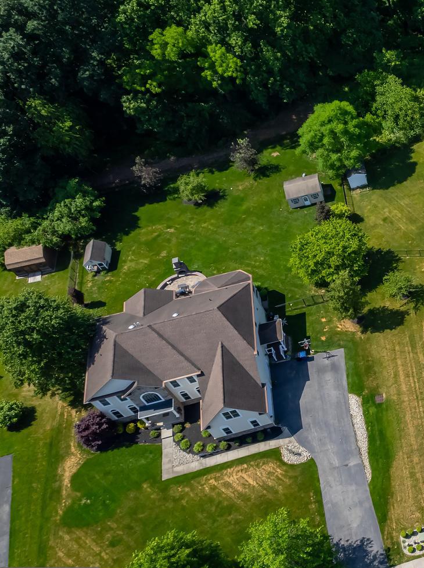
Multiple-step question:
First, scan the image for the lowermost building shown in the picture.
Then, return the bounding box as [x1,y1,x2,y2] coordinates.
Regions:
[84,269,289,439]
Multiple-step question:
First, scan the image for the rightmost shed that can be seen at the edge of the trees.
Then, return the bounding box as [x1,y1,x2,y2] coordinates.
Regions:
[343,160,371,190]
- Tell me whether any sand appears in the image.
No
